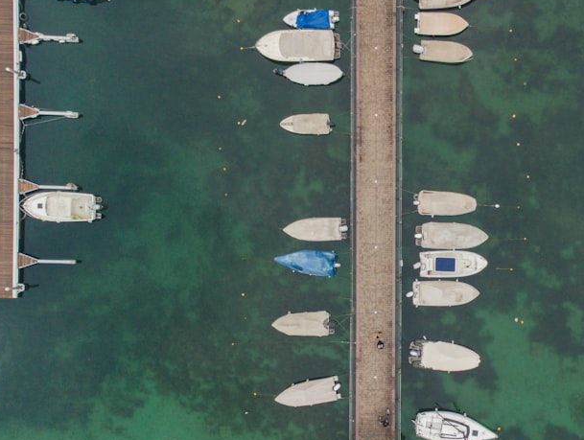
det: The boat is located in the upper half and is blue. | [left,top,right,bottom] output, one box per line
[283,6,339,29]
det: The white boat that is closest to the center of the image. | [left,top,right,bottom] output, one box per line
[282,216,348,242]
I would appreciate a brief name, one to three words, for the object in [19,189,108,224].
boat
